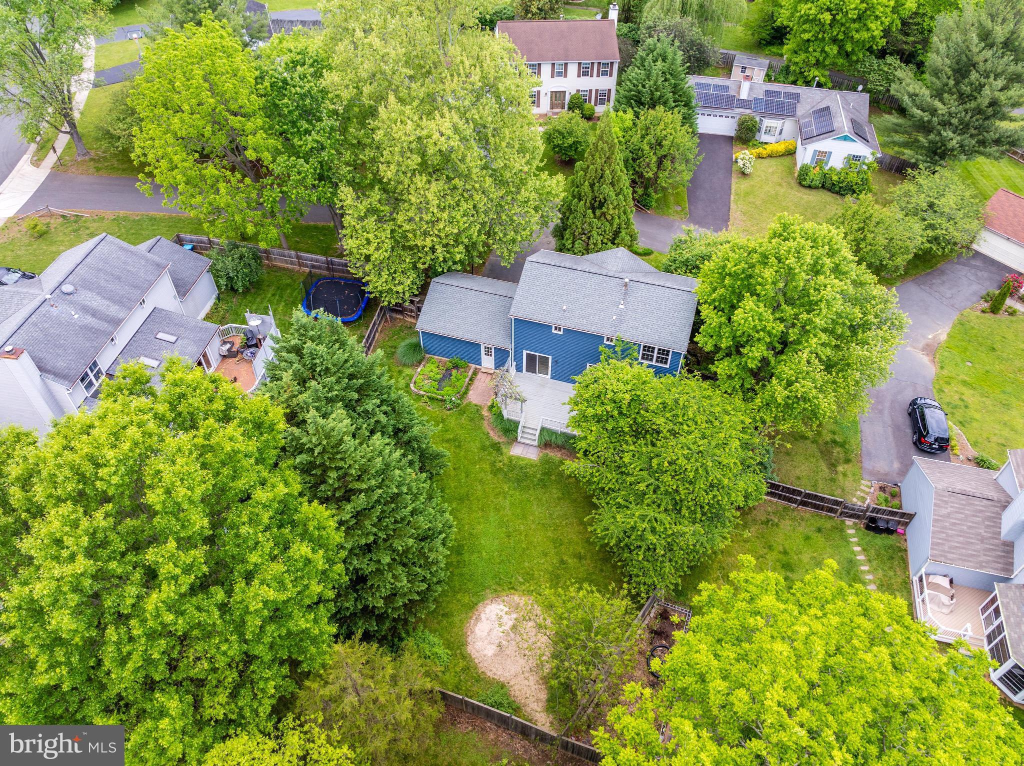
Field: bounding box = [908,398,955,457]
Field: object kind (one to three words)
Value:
car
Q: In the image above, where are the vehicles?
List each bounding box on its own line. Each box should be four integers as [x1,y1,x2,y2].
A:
[0,261,41,278]
[908,398,955,457]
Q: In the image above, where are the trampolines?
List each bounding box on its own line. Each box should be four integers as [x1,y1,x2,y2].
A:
[298,265,372,329]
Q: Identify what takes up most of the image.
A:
trees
